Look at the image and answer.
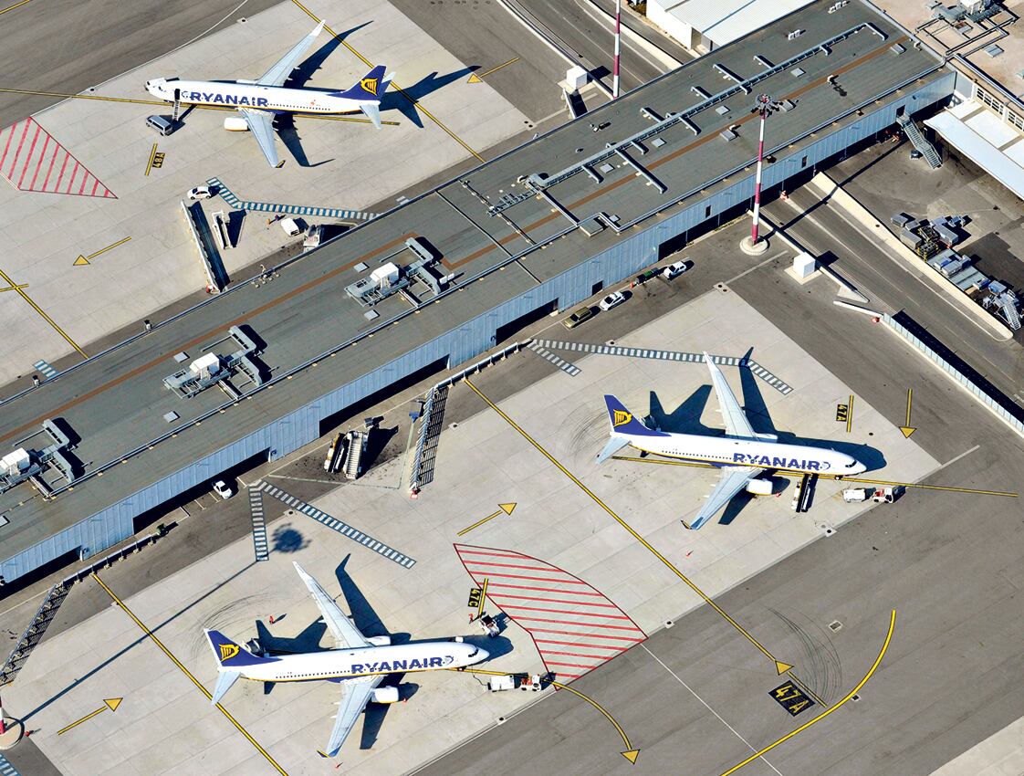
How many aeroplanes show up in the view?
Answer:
3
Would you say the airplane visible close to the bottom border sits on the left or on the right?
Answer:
left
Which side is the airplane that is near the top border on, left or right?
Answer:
left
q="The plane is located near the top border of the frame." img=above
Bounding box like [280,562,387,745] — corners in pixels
[151,20,394,167]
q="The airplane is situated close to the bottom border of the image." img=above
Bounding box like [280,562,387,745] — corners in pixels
[205,560,488,756]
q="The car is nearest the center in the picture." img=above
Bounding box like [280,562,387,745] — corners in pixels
[566,309,596,329]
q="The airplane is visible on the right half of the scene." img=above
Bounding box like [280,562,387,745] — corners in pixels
[597,351,866,531]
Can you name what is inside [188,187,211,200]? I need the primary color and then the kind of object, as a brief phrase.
white vehicle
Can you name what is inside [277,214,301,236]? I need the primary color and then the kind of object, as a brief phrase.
white vehicle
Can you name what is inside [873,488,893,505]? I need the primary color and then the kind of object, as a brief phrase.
white work vehicle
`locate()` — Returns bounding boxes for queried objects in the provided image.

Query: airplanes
[151,20,394,167]
[205,560,488,756]
[597,351,866,531]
